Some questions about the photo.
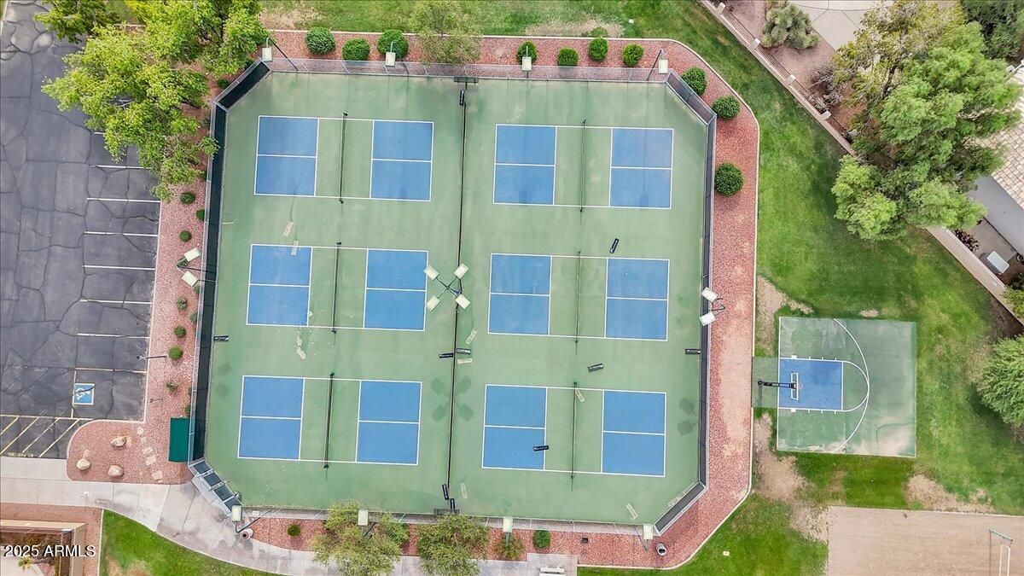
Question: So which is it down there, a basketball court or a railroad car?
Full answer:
The image shows a basketball court.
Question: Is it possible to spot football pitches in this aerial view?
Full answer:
No, no football pitch is visible in the view.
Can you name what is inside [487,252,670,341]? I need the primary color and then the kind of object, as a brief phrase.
blue sports court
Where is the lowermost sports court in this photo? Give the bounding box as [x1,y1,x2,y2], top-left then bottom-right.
[828,506,1024,576]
